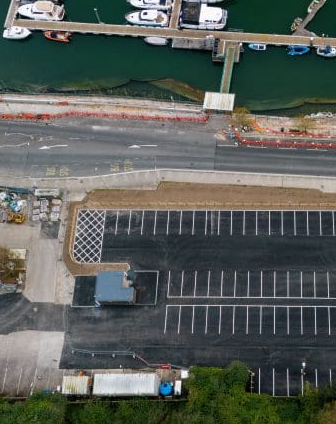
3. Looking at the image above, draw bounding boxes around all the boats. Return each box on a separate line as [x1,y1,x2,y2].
[15,1,67,21]
[43,31,72,43]
[128,0,172,9]
[181,1,228,28]
[315,46,336,57]
[0,27,32,39]
[143,35,167,43]
[248,43,267,51]
[292,16,304,31]
[308,0,320,13]
[287,45,311,56]
[123,9,170,26]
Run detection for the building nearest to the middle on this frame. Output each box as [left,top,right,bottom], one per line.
[95,271,137,301]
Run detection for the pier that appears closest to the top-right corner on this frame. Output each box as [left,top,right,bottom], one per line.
[292,0,326,37]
